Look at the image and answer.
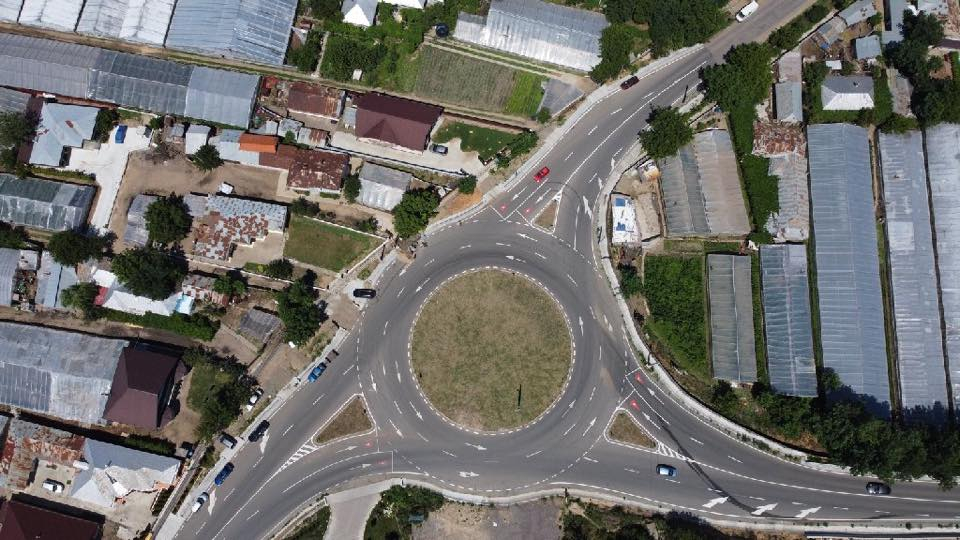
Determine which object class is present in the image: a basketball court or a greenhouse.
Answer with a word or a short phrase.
greenhouse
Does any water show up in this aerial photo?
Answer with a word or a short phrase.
No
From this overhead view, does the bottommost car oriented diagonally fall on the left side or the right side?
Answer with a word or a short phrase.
left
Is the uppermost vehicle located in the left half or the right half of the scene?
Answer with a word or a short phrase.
right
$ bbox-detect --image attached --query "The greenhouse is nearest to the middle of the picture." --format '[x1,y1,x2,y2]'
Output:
[355,161,412,211]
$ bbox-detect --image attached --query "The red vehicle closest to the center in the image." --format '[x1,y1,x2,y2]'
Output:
[532,165,551,183]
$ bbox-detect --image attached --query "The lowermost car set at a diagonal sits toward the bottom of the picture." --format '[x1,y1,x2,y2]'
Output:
[190,490,211,513]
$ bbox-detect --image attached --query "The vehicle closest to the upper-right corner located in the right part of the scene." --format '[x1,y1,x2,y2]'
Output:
[734,0,761,22]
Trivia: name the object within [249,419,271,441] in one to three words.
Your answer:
car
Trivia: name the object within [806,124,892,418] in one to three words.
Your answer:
greenhouse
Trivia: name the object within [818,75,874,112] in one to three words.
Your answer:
house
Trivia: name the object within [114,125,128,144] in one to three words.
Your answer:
car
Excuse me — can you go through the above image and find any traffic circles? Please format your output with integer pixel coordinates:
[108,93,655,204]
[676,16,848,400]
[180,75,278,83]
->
[361,219,623,482]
